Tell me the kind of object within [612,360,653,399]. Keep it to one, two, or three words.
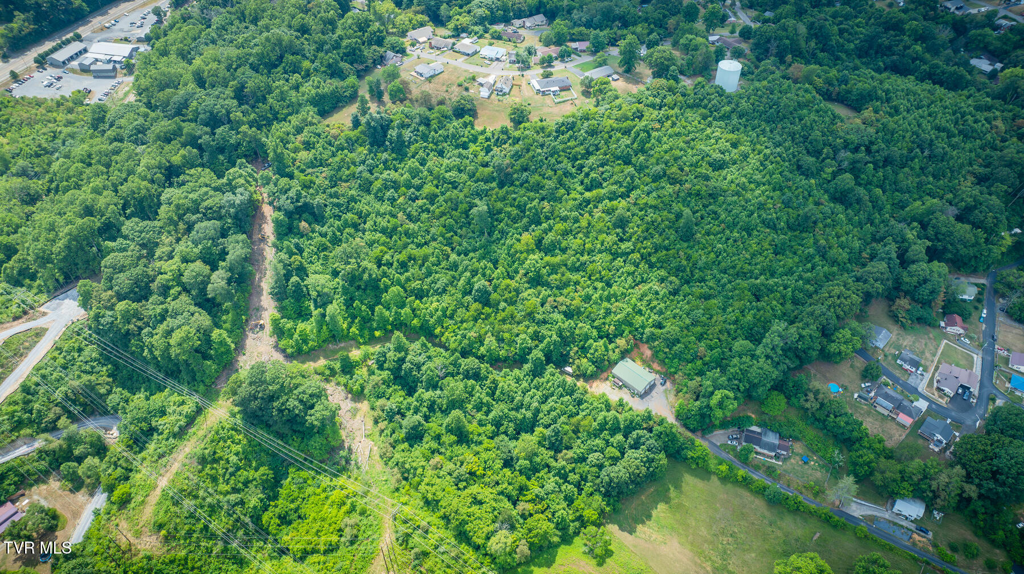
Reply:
building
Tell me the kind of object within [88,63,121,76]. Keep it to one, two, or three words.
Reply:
shed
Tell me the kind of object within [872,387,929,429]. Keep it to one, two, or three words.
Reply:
house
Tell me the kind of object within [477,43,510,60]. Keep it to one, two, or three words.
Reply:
house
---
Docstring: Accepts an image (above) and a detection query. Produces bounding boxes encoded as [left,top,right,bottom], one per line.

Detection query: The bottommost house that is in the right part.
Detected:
[893,489,925,523]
